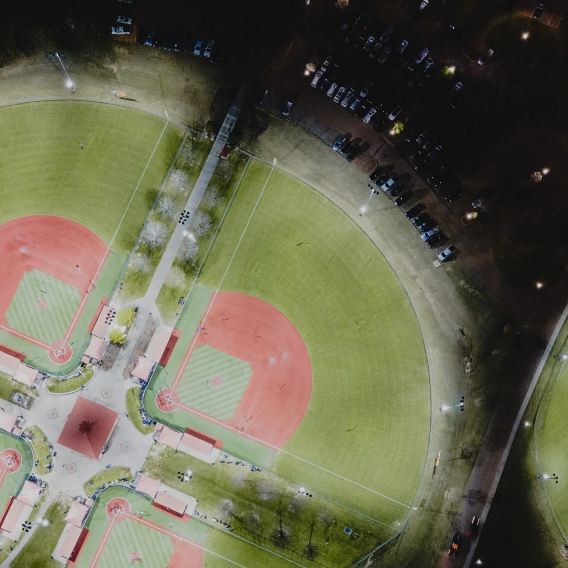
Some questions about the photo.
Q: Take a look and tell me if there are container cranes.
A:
No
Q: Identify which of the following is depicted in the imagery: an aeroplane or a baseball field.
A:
baseball field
